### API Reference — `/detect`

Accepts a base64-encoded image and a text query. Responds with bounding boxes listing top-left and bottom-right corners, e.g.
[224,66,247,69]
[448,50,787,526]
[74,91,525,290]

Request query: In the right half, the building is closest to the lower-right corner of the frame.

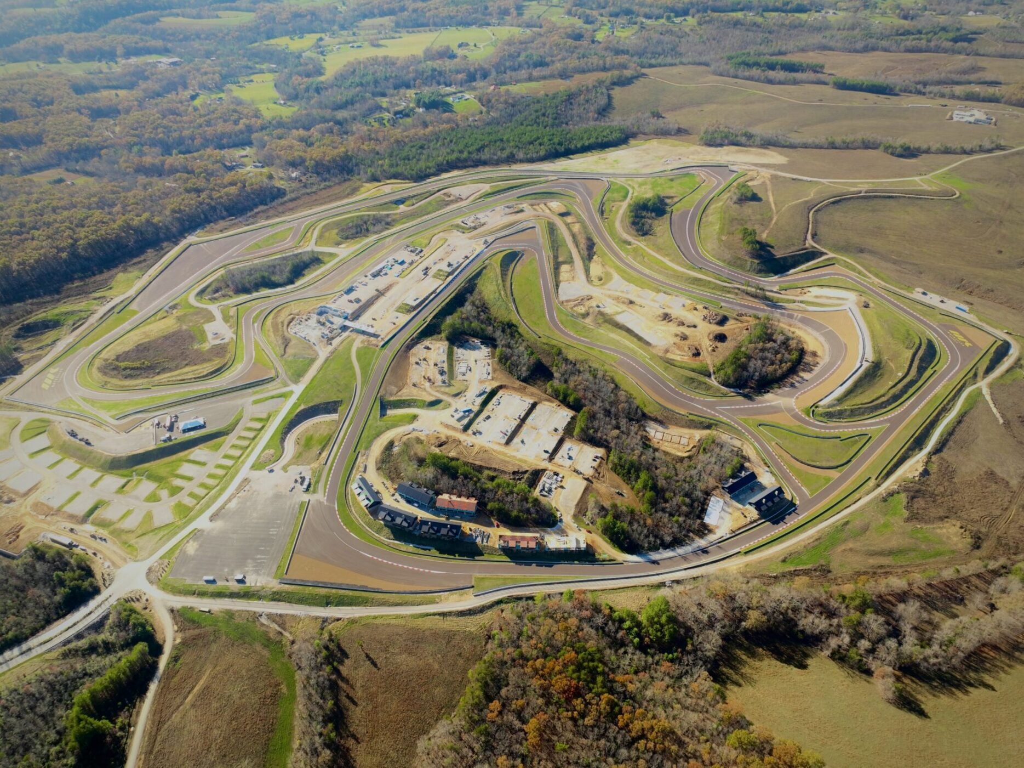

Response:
[747,486,789,519]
